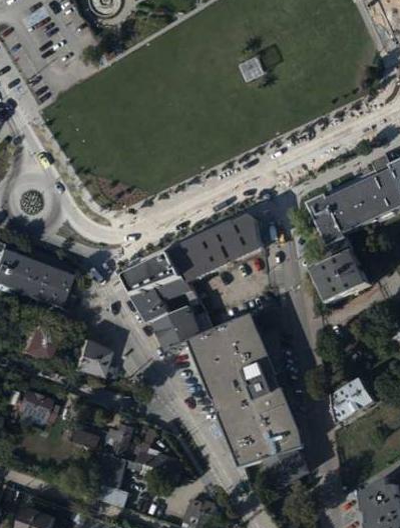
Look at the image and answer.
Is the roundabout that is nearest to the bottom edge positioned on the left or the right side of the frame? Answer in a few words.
left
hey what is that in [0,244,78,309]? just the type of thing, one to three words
building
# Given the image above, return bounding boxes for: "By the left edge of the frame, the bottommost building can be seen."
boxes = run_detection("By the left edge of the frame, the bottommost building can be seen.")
[13,506,57,528]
